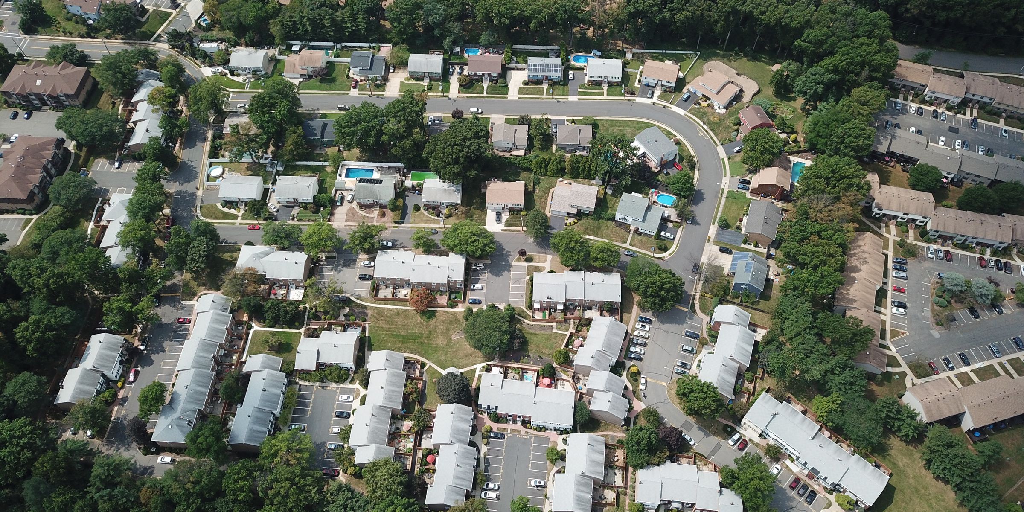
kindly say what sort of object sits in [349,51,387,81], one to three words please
house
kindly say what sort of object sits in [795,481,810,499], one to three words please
car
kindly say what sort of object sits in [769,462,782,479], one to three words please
vehicle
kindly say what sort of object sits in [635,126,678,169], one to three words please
house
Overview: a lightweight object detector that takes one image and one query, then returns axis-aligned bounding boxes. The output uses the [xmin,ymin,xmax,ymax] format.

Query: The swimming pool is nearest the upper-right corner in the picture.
[791,161,805,184]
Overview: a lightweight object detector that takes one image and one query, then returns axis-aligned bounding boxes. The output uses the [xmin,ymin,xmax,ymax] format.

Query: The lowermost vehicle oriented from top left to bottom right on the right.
[682,431,697,447]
